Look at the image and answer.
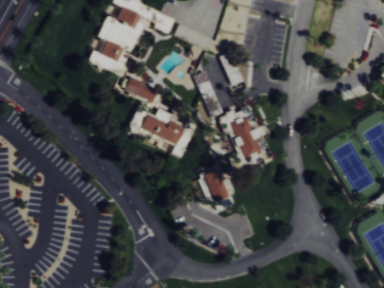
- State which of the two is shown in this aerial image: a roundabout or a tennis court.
tennis court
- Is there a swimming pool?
Yes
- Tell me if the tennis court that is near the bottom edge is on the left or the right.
right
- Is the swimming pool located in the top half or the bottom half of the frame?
top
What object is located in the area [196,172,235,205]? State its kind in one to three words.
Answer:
house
